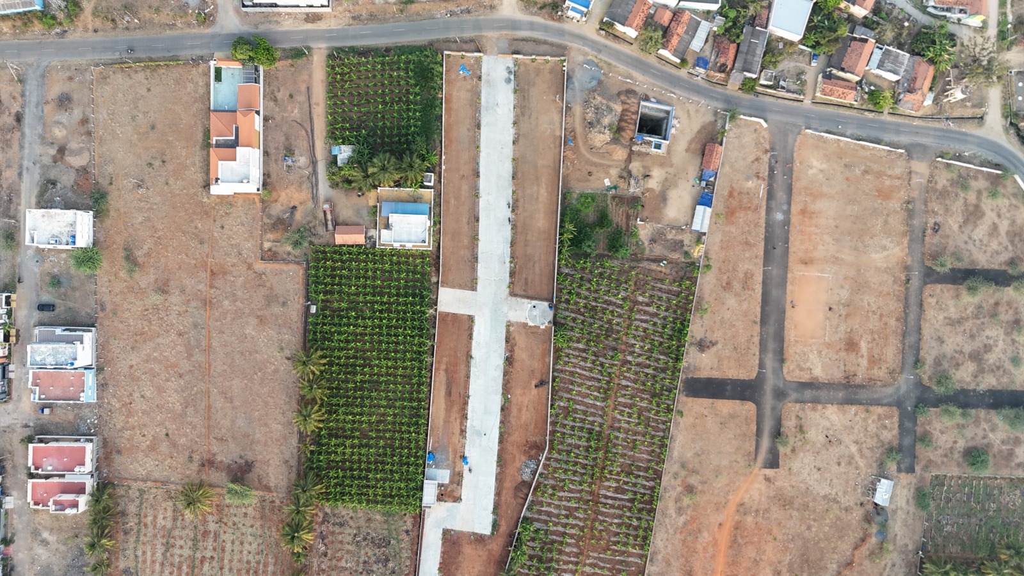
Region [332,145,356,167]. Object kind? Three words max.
shed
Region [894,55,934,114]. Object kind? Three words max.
house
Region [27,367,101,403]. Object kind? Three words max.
house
